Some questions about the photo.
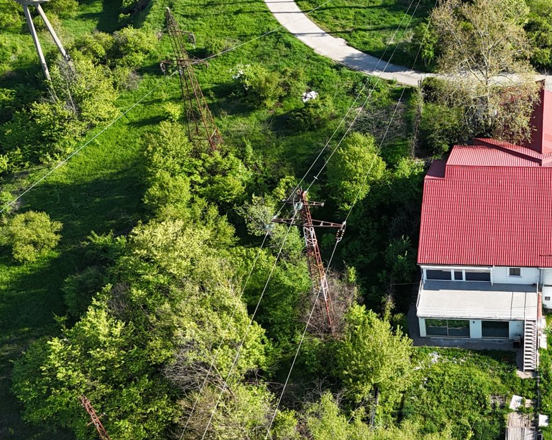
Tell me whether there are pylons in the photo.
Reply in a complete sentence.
Yes, there's a pylon down there.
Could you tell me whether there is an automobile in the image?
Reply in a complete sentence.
No, the frame has no automobile in it.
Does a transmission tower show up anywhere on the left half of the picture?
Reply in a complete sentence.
Yes, I can see a transmission tower on the left half of the picture.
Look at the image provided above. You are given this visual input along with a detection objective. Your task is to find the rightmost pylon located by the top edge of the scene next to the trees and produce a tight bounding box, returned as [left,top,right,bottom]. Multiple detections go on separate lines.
[151,9,219,152]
